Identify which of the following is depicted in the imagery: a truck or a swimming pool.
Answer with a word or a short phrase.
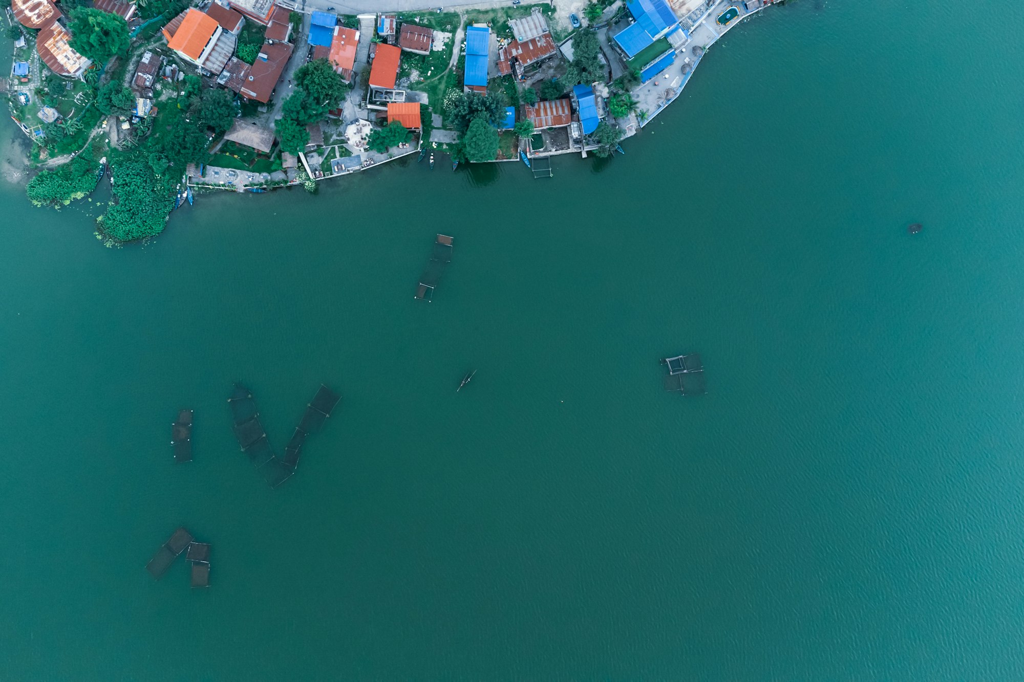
swimming pool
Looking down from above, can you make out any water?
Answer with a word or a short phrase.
Yes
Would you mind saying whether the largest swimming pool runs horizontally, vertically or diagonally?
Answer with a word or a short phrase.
diagonally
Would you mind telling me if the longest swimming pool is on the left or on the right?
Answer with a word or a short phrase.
right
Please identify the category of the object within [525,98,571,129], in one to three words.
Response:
house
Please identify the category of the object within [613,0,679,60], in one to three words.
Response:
building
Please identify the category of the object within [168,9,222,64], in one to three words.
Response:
house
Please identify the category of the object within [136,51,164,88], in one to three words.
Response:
shed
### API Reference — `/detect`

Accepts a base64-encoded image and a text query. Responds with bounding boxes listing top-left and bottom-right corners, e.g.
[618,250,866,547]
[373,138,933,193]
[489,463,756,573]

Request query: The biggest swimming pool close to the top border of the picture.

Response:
[715,3,741,27]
